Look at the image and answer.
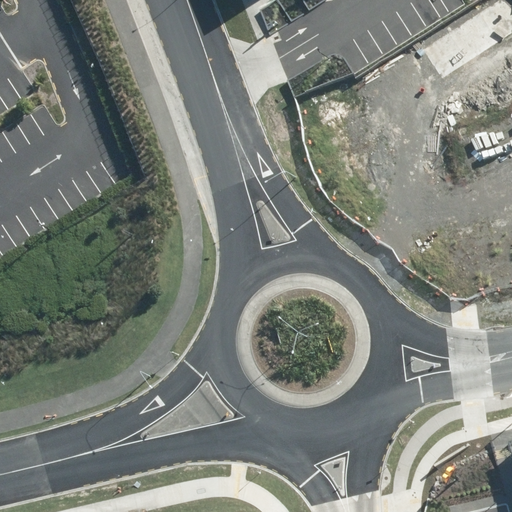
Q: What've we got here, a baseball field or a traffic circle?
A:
traffic circle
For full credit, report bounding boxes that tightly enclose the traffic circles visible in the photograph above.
[36,164,454,506]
